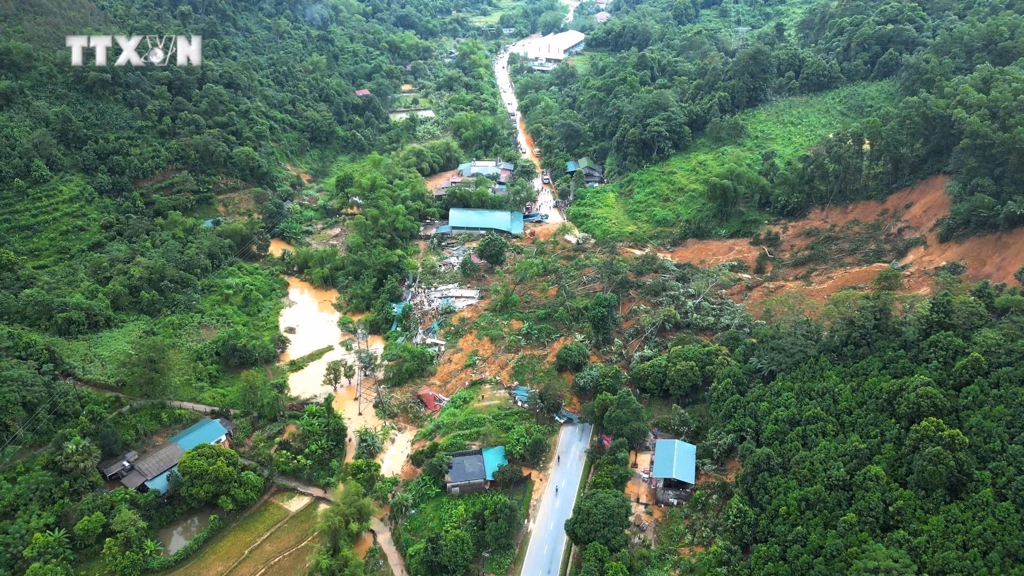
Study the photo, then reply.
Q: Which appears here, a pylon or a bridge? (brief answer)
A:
pylon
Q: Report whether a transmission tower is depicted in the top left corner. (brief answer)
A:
No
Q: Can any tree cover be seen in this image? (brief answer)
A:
Yes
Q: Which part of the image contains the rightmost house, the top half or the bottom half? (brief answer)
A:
bottom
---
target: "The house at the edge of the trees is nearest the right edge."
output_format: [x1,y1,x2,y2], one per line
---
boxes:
[651,439,696,504]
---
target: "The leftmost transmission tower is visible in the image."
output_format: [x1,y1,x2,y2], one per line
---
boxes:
[335,323,384,415]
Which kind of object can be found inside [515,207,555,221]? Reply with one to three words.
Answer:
vehicle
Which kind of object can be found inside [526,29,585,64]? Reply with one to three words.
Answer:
building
